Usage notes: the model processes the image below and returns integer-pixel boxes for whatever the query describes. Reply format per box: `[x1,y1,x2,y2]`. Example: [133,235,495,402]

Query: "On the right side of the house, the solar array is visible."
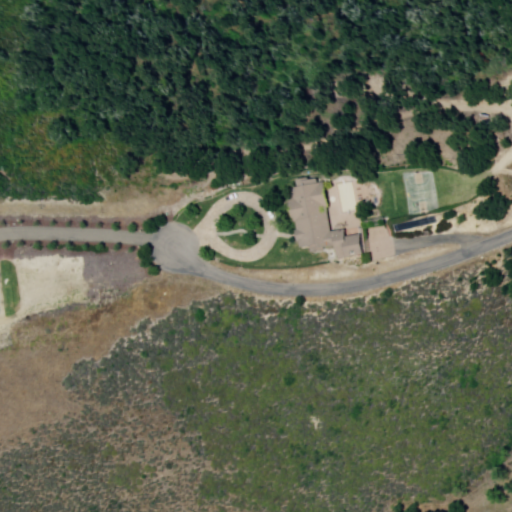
[394,216,437,232]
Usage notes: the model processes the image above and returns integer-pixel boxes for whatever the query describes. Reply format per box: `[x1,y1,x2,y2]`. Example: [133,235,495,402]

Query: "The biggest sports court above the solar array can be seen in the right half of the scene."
[404,172,438,214]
